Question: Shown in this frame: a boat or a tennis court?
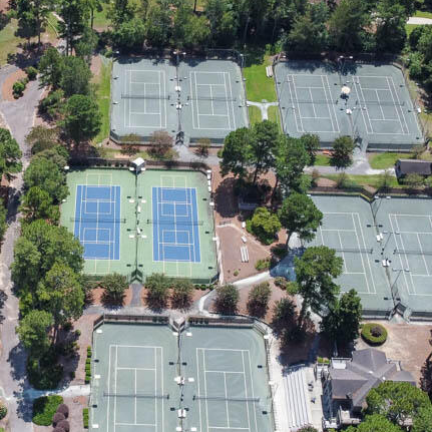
tennis court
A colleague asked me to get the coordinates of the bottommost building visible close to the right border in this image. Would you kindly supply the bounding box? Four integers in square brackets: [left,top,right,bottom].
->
[306,343,419,432]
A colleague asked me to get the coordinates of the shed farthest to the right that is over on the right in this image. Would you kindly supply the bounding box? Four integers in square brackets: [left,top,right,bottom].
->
[392,160,432,184]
